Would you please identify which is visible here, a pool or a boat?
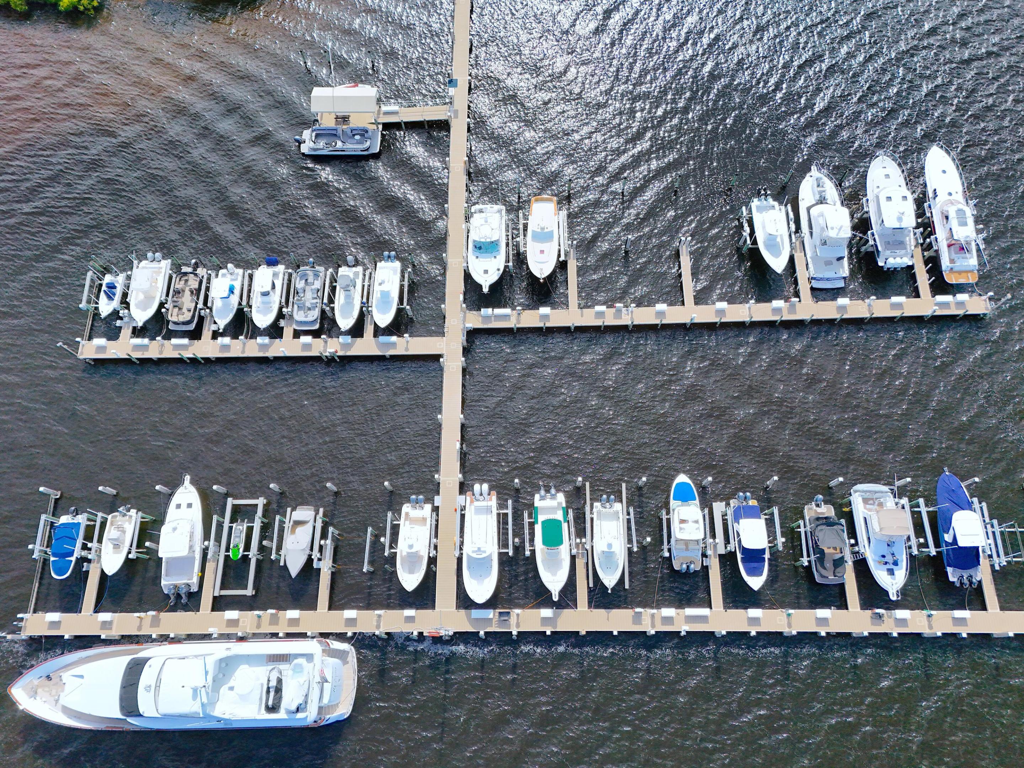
boat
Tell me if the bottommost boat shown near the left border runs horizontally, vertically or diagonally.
horizontally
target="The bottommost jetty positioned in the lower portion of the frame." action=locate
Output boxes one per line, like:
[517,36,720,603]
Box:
[21,609,1024,635]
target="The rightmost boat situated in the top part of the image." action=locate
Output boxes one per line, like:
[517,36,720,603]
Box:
[923,141,1002,286]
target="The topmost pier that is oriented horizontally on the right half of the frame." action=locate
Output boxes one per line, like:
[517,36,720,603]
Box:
[466,297,989,327]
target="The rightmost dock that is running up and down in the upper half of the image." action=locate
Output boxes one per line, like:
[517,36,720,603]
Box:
[911,235,932,298]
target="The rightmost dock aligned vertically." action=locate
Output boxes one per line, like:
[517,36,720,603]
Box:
[979,543,1000,611]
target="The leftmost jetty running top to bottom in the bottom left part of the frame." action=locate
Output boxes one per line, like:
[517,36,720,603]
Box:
[81,550,103,613]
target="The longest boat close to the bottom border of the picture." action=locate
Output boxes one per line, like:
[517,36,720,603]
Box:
[7,639,359,733]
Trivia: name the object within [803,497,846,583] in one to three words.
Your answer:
boat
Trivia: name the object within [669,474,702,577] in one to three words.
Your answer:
boat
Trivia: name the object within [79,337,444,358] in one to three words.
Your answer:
pier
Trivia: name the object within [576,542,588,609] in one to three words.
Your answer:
pier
